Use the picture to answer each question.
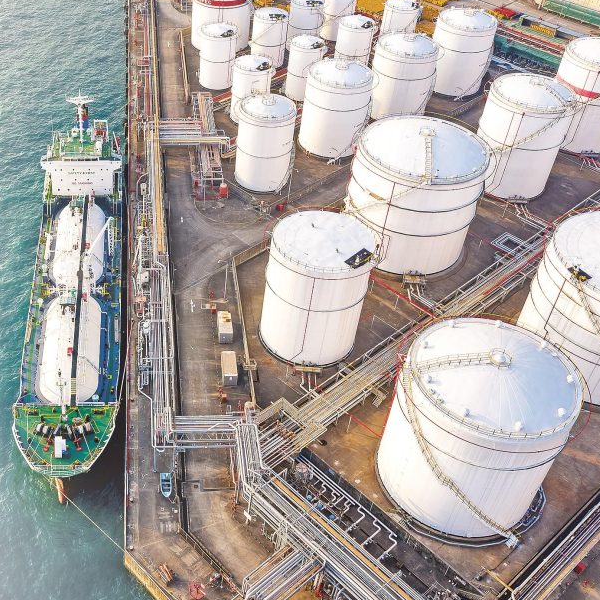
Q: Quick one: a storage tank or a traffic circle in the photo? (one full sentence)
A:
There is a storage tank in the scene.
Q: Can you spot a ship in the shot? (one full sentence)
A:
Yes, the picture does show a ship.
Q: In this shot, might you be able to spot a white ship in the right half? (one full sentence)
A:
No, no white ship can be made out in the right half.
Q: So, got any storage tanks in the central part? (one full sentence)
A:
Yes, looking in the central part, one can make out a storage tank.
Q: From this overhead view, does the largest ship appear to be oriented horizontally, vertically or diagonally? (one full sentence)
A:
The largest ship has been laid out vertically relative to the frame.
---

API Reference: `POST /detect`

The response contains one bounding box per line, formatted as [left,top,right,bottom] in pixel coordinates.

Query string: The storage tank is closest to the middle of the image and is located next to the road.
[257,204,379,375]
